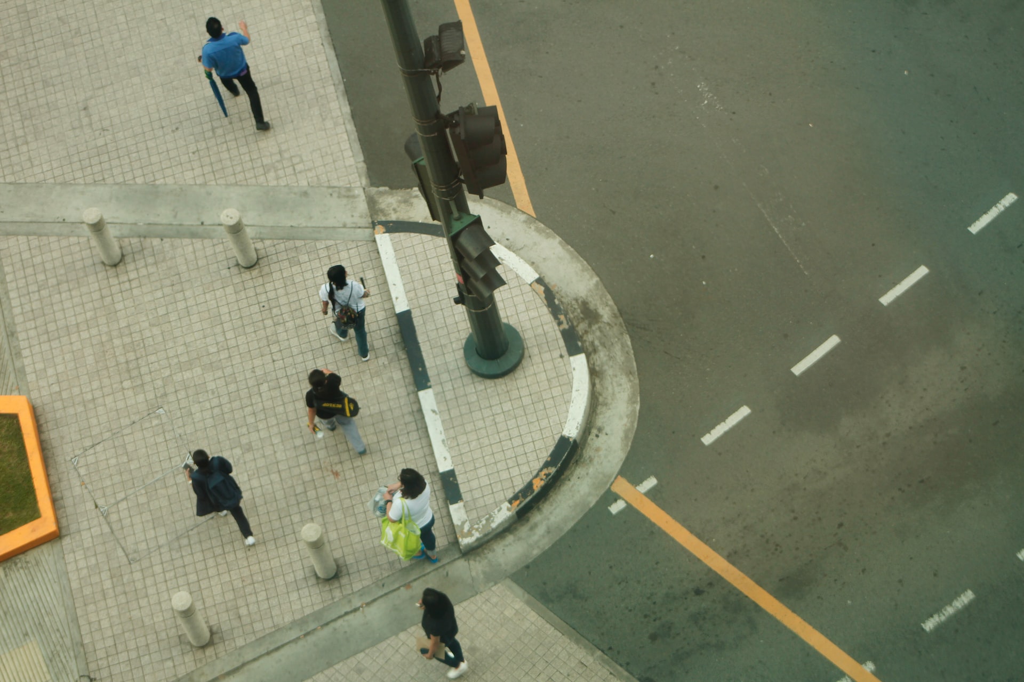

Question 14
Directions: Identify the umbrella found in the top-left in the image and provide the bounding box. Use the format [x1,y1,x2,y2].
[198,62,228,120]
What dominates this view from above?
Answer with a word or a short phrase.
paved ground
